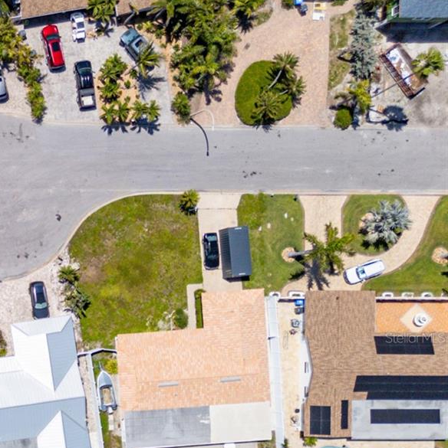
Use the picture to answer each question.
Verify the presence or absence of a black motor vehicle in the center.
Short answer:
Yes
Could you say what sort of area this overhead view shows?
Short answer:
residential area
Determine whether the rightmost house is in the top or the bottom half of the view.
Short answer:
top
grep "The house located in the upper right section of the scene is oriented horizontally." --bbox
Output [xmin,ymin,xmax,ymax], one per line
[374,0,448,32]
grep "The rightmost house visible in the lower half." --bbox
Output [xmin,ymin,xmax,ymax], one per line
[295,290,448,441]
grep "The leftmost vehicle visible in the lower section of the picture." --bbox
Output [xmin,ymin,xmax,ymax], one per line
[29,280,52,320]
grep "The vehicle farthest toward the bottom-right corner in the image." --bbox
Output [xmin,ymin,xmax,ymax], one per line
[337,259,383,285]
